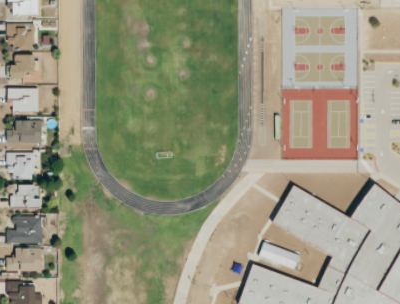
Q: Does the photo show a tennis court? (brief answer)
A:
Yes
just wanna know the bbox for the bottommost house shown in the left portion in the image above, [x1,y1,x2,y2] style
[6,280,42,304]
